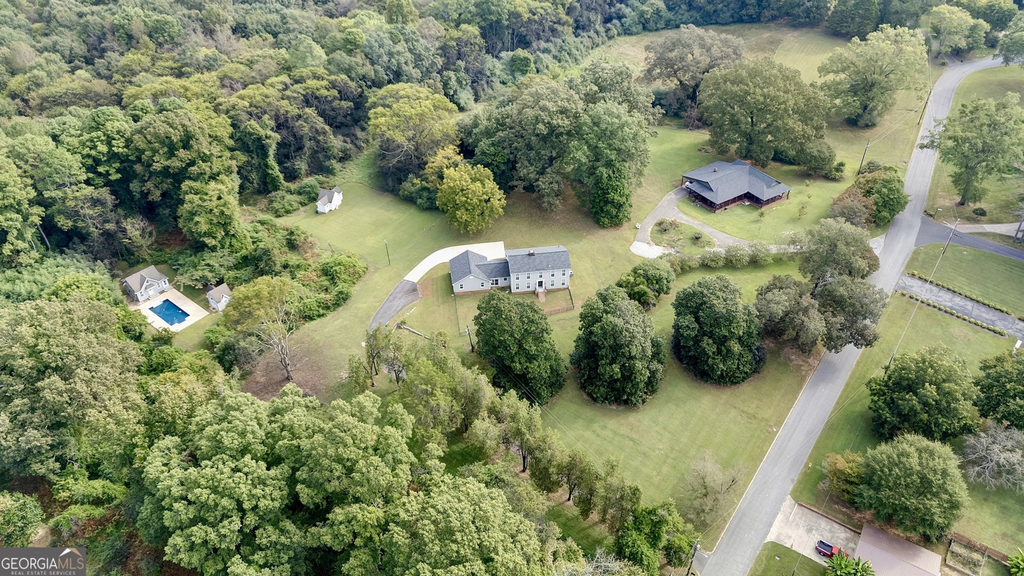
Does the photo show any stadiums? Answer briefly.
No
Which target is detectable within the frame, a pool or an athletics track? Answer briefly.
pool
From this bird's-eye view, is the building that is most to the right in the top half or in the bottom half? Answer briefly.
bottom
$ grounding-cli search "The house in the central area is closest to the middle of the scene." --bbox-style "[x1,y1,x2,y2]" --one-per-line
[451,247,574,302]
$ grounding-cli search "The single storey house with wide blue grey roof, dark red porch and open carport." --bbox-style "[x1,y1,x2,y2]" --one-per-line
[678,159,792,213]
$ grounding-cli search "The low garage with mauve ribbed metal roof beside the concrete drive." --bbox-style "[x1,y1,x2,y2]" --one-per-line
[849,523,942,576]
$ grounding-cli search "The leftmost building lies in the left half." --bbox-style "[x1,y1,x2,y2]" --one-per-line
[121,263,174,302]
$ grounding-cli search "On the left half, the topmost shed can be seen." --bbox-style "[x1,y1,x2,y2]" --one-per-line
[314,188,345,213]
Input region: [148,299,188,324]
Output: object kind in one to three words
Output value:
swimming pool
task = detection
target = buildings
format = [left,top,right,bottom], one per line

[314,188,345,213]
[451,247,574,302]
[205,281,238,312]
[121,263,174,302]
[849,523,942,576]
[678,159,792,213]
